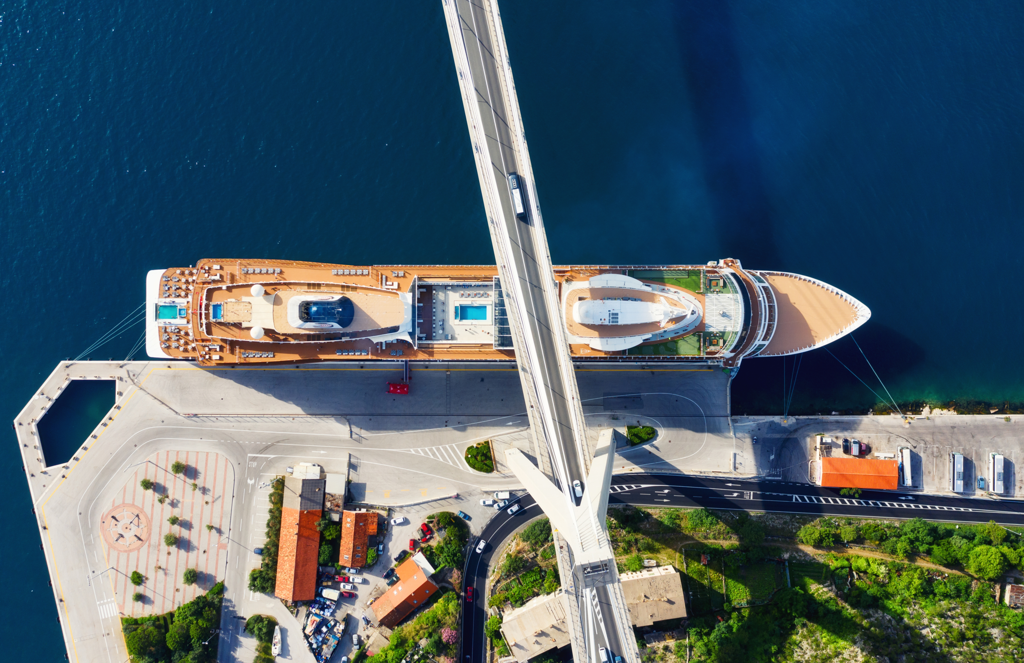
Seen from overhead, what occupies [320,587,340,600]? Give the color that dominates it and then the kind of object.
white vehicle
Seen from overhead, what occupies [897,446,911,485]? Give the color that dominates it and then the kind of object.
white vehicle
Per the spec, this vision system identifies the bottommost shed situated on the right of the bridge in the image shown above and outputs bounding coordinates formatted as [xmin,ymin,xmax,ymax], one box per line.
[644,626,685,646]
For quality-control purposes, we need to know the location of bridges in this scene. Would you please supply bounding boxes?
[442,0,641,663]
